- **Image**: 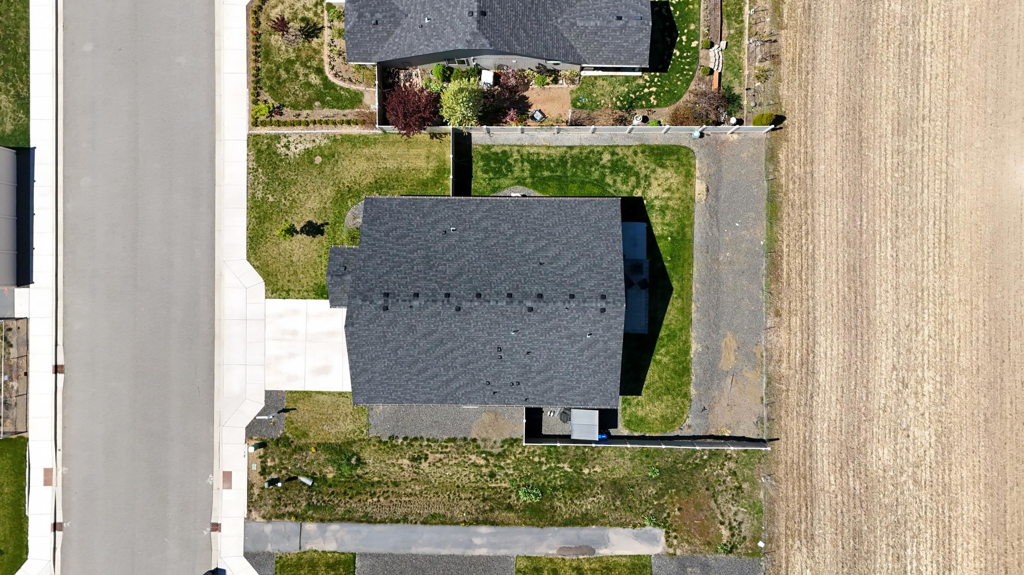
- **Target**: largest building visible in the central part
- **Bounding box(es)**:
[326,194,628,410]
